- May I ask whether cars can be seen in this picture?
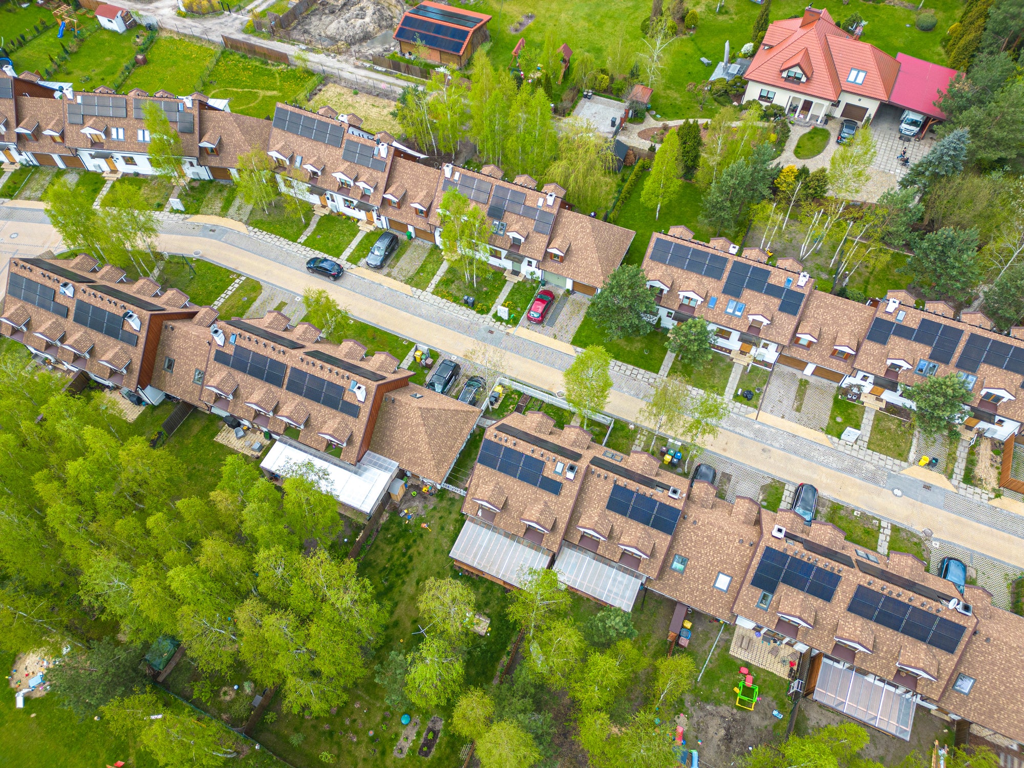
Yes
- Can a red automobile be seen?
Yes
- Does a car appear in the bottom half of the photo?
Yes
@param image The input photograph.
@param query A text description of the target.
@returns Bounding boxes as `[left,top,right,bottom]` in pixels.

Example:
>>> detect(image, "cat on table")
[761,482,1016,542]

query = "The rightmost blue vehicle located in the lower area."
[939,548,972,593]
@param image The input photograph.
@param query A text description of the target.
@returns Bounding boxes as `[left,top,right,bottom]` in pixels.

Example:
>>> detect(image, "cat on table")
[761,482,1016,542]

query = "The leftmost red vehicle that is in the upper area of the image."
[525,290,554,322]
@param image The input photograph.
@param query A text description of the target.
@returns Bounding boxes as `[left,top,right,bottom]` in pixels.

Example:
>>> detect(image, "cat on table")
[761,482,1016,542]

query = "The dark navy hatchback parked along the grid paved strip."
[306,260,344,283]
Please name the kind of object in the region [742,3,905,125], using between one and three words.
house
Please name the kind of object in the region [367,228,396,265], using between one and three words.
car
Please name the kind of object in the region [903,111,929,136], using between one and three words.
truck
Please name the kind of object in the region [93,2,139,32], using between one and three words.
shed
